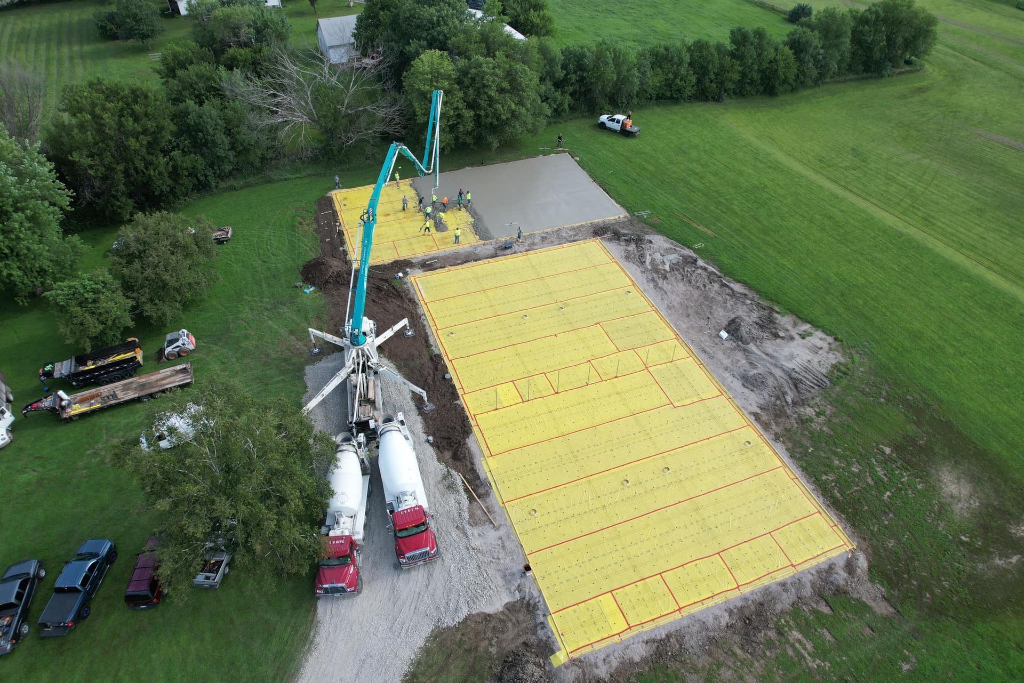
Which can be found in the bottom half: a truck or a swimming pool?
truck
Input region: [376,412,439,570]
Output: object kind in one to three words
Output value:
truck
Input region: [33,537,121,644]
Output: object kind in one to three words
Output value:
truck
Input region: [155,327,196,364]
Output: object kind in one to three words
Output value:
work vehicle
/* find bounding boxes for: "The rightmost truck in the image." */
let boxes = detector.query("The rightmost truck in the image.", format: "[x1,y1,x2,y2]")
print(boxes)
[597,114,645,138]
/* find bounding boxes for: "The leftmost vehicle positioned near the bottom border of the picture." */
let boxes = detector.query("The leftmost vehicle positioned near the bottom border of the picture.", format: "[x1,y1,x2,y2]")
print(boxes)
[0,553,48,664]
